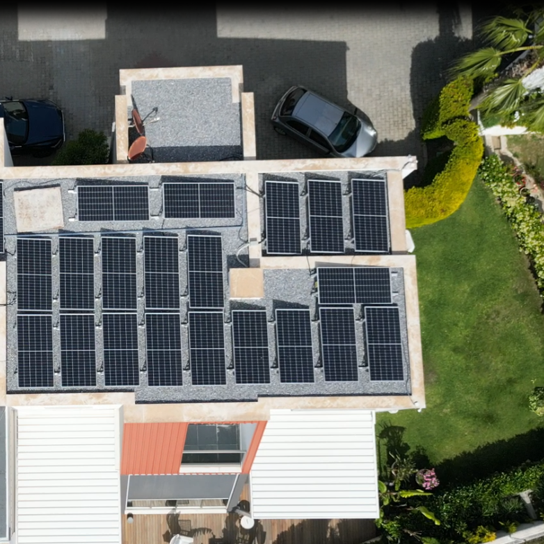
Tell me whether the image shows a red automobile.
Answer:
No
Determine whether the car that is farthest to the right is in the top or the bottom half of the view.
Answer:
top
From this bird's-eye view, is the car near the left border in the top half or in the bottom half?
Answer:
top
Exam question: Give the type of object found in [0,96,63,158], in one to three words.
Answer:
car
